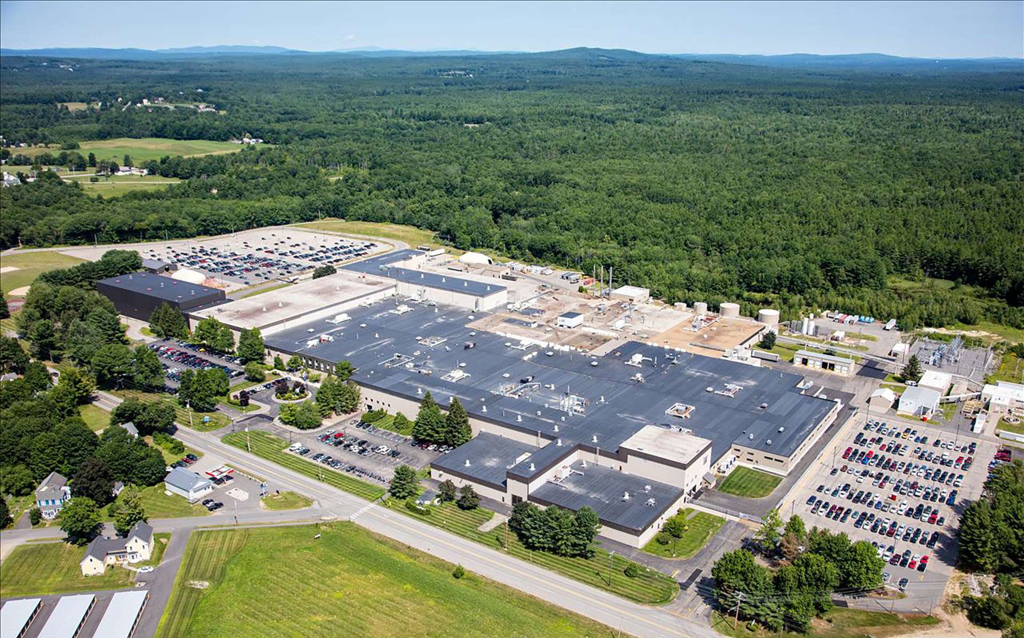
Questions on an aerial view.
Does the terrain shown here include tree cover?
Yes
